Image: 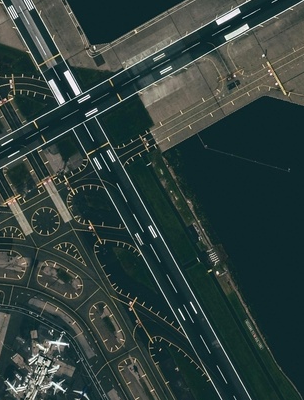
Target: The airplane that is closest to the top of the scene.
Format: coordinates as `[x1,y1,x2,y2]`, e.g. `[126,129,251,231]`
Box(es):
[48,334,70,353]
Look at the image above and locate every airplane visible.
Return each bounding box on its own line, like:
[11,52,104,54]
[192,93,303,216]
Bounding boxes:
[53,380,68,396]
[48,334,70,353]
[72,388,88,400]
[3,379,18,394]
